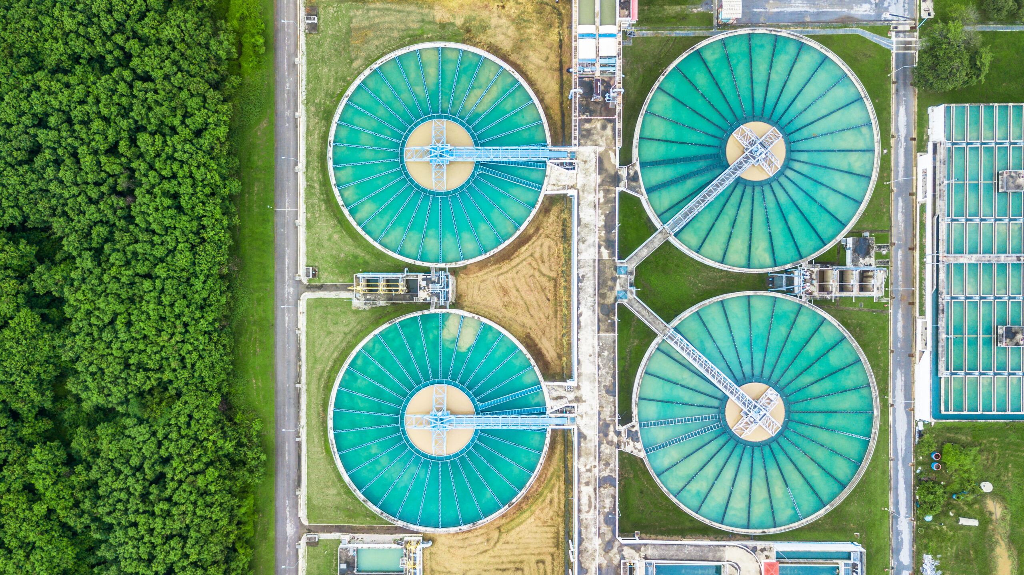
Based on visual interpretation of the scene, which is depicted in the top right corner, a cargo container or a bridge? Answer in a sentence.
There is a bridge in the top right corner.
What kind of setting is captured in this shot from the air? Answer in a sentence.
The area seen from above is an industrial area.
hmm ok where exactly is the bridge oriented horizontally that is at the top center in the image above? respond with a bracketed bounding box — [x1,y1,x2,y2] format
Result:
[403,117,568,190]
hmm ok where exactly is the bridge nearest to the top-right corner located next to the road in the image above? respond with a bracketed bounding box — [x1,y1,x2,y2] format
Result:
[889,22,928,54]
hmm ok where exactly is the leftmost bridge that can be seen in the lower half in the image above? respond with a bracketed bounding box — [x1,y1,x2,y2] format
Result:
[403,386,568,459]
